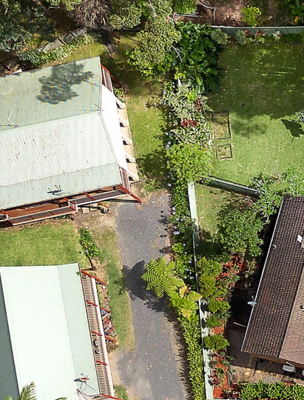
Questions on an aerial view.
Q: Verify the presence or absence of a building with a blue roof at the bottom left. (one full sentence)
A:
No, there is no building with a blue roof at the bottom left.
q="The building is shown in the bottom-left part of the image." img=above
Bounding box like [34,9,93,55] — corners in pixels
[0,262,128,400]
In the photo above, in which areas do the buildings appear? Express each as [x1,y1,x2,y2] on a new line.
[0,262,128,400]
[0,55,146,236]
[240,197,304,365]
